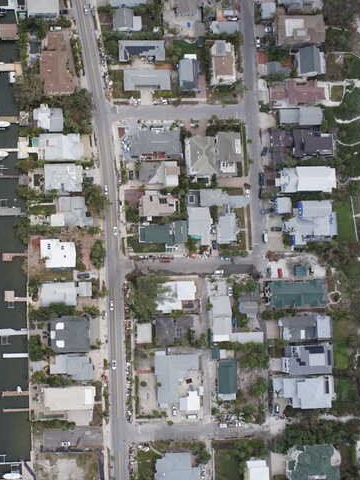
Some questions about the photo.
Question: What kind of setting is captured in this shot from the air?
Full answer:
What you see here is a residential area.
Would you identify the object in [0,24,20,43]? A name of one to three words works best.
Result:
building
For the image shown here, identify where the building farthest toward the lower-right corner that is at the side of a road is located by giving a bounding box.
[284,441,342,480]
